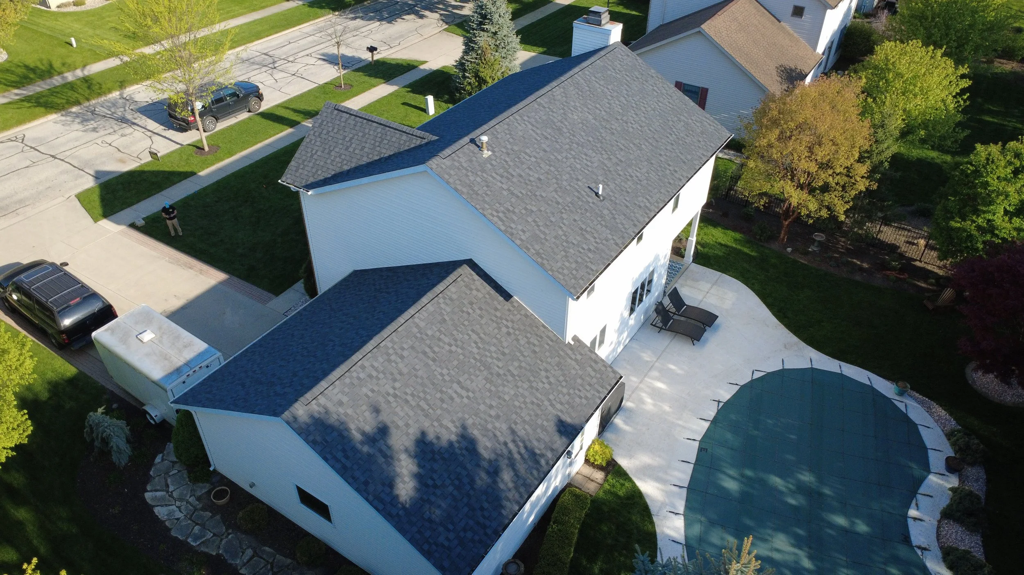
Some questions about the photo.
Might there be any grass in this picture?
Yes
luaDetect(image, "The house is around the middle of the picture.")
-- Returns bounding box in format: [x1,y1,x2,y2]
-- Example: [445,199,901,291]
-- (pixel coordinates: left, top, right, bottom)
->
[166,8,734,575]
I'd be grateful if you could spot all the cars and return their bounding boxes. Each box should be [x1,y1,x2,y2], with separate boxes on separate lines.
[0,258,117,347]
[167,79,268,132]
